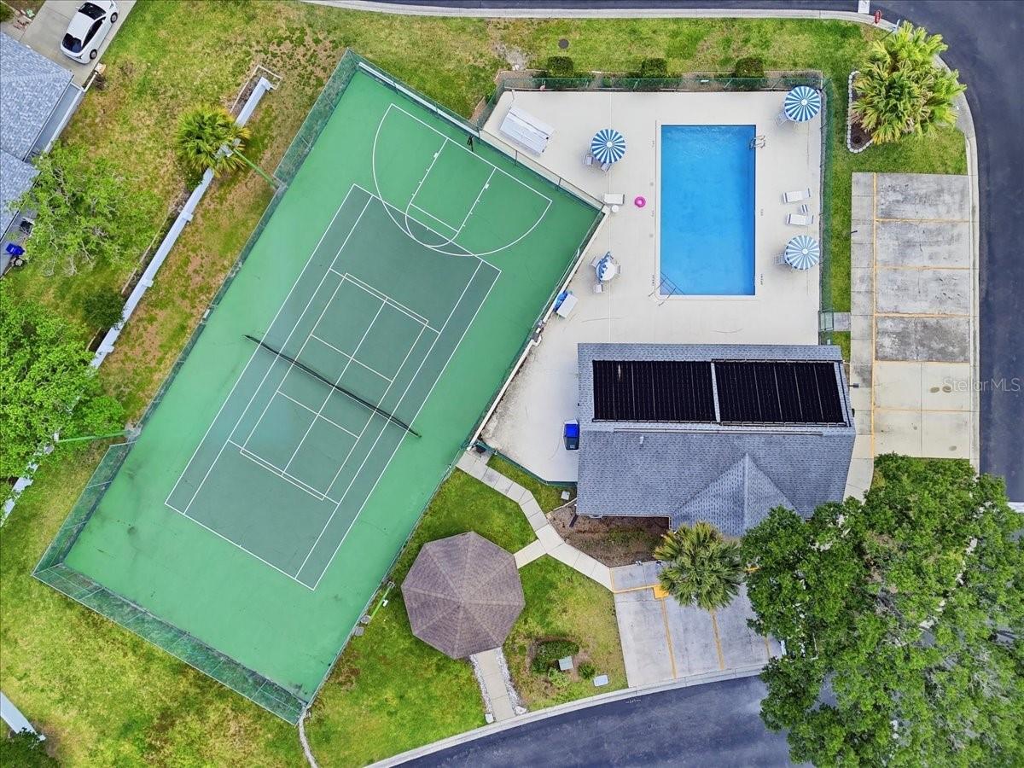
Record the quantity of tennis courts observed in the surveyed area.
1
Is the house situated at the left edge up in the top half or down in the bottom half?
top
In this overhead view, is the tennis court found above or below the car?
below it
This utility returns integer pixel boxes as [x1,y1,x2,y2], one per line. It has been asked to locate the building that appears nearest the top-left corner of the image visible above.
[0,30,88,245]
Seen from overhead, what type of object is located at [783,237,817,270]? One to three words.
umbrella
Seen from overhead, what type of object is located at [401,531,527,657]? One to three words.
gazebo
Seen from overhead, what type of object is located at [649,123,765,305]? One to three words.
swimming pool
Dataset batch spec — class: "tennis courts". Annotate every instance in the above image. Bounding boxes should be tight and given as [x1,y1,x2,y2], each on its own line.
[64,69,603,703]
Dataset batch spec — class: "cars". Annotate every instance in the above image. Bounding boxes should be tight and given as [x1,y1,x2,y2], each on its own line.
[60,0,118,60]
